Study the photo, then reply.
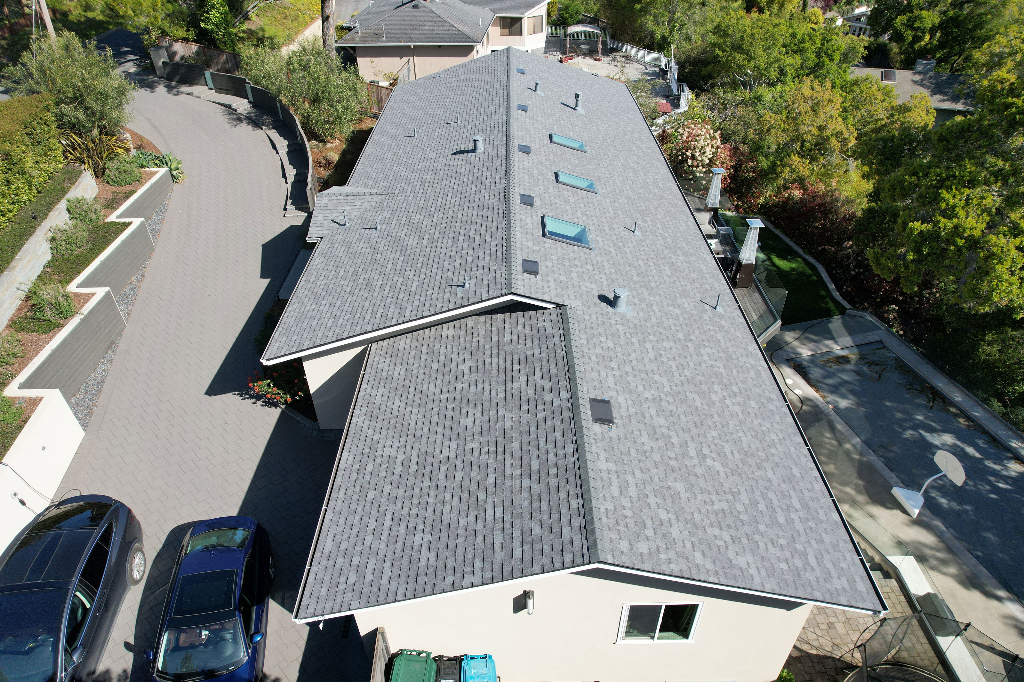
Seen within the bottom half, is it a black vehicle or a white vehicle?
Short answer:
black vehicle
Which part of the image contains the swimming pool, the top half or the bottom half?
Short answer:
bottom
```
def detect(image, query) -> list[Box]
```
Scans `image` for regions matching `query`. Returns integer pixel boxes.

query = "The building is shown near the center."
[259,46,890,682]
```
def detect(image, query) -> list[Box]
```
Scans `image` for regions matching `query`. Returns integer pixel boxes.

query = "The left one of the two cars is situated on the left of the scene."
[0,497,143,682]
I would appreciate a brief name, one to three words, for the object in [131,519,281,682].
car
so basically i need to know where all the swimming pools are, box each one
[764,330,1024,629]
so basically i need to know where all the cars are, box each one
[0,497,143,682]
[131,519,281,682]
